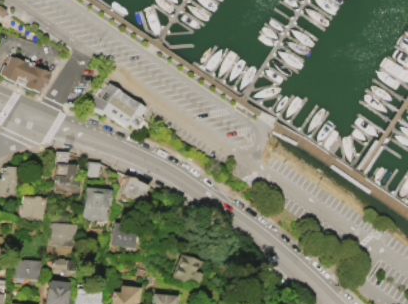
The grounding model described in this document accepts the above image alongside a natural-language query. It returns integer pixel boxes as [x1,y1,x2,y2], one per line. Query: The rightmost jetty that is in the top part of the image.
[343,48,408,176]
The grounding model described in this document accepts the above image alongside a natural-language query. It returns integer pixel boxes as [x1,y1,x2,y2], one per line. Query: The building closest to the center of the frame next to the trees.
[122,176,152,200]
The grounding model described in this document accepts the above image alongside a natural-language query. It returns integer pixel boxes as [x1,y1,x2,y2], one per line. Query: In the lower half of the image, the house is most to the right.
[172,254,205,286]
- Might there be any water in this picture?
Yes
